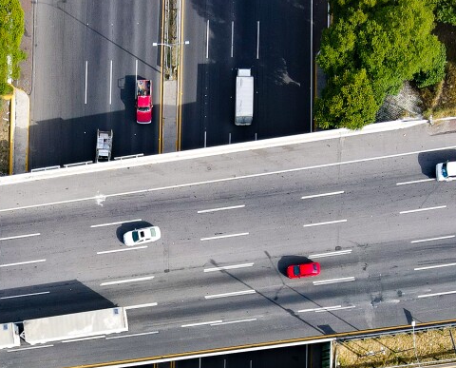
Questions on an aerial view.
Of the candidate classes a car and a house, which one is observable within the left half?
car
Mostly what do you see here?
paved ground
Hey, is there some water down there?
No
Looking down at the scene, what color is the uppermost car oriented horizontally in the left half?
white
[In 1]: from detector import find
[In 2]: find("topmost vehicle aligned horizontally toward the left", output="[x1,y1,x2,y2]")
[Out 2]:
[124,227,162,247]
